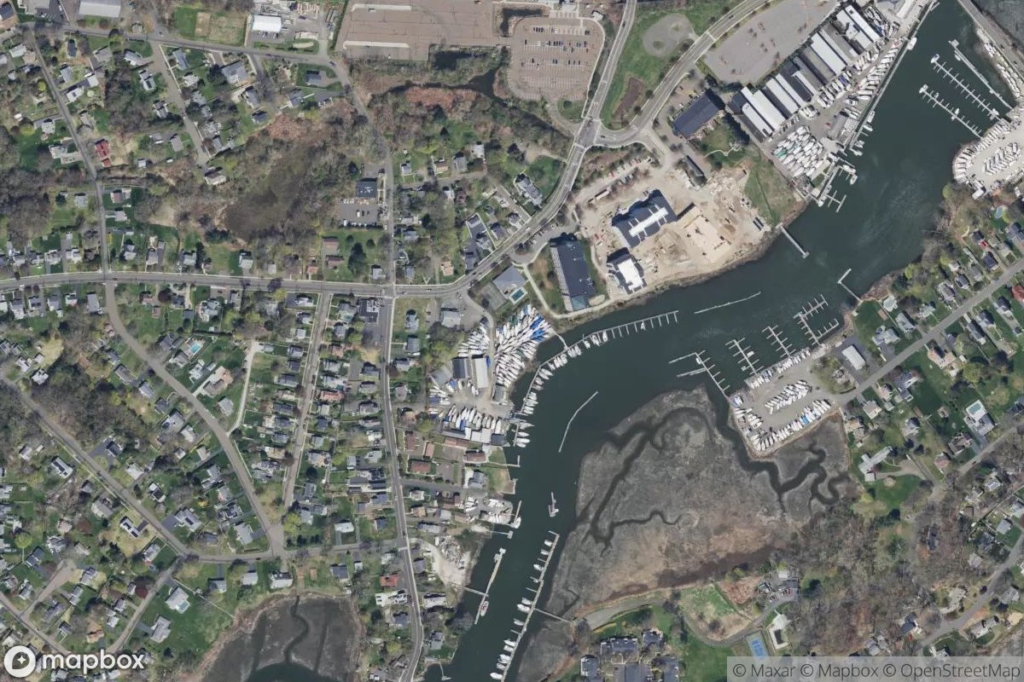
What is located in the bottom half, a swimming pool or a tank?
swimming pool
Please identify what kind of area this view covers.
residential area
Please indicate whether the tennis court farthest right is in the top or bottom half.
bottom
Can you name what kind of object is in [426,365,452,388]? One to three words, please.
house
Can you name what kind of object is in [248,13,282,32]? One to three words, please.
building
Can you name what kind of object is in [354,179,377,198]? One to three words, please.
building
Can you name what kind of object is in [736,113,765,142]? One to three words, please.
shed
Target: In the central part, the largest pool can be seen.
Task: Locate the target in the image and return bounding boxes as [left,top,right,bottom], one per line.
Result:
[509,286,529,304]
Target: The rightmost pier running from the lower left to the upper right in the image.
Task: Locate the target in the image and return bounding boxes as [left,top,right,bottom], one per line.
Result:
[852,0,945,147]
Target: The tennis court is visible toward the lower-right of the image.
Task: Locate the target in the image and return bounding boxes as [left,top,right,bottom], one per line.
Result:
[746,632,770,668]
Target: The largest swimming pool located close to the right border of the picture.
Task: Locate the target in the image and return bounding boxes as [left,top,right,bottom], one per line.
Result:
[965,399,988,422]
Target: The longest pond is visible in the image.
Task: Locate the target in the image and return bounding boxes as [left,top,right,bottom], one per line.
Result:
[366,52,572,143]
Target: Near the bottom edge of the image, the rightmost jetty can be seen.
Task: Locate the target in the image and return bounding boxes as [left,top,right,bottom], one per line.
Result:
[502,530,575,682]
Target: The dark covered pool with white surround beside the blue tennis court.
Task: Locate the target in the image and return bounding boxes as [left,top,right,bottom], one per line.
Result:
[768,628,789,651]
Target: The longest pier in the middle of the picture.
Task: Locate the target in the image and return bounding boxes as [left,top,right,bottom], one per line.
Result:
[520,310,679,412]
